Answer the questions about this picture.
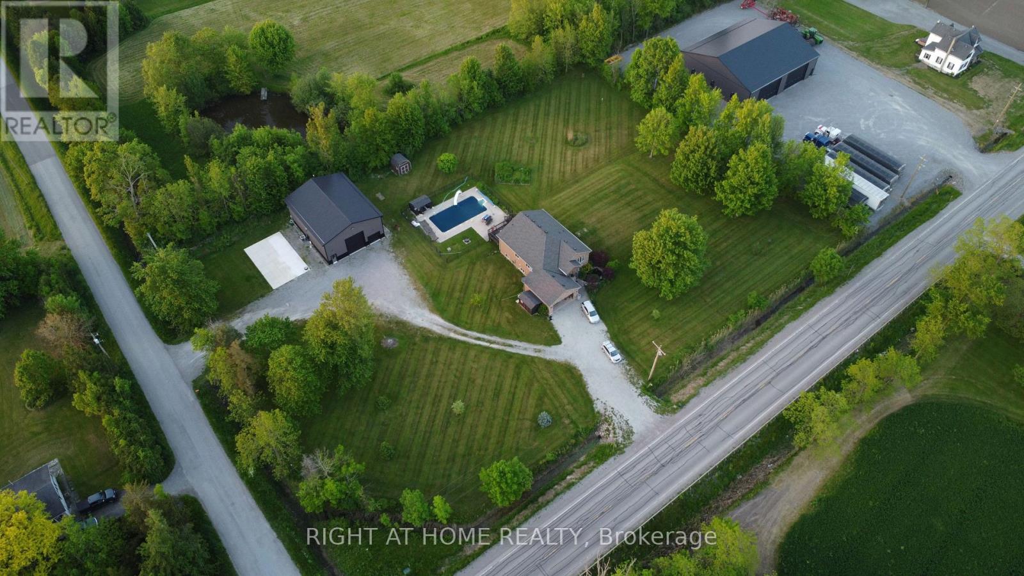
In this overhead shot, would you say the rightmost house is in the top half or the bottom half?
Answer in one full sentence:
The top half of the photo is where the rightmost house is.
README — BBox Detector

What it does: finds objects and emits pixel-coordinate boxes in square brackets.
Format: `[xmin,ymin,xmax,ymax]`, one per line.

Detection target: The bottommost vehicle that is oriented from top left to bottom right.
[601,339,625,363]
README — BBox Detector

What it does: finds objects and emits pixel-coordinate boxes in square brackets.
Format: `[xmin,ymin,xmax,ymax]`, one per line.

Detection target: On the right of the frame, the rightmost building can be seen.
[906,18,995,76]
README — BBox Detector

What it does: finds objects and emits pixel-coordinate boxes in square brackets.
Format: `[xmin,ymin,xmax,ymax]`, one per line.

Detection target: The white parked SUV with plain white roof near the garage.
[580,297,602,322]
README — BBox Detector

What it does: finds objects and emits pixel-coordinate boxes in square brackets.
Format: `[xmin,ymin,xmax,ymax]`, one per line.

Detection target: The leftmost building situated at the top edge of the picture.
[680,18,822,110]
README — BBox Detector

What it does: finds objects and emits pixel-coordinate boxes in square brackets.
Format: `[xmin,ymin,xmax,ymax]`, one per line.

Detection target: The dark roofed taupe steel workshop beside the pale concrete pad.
[284,172,387,265]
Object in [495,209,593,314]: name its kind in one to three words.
house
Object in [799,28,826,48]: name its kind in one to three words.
work vehicle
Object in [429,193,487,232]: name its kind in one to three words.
swimming pool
